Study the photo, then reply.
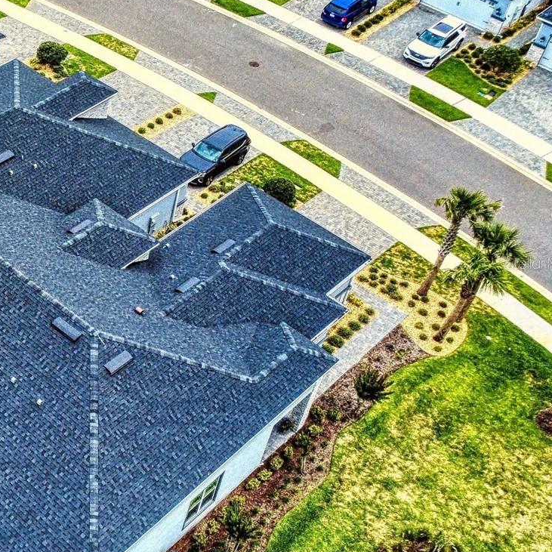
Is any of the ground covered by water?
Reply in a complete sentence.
No, no water is visible.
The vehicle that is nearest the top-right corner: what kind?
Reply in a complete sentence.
The vehicle that is nearest the top-right corner is an automobile.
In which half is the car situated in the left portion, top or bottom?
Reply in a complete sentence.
You can find the car situated in the left portion in the top half.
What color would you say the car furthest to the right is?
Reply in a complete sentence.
From above, the car furthest to the right appears white.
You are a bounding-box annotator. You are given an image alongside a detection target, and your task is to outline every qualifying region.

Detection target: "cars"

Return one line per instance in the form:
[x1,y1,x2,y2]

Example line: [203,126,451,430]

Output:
[182,123,256,186]
[320,0,379,25]
[406,12,471,65]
